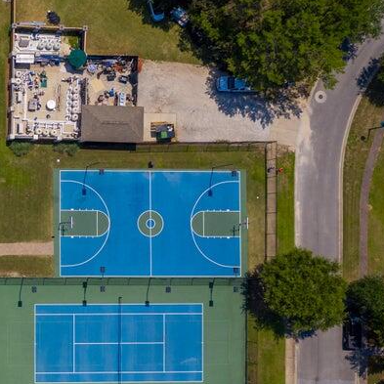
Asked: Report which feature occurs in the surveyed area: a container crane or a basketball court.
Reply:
basketball court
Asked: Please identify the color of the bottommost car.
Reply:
black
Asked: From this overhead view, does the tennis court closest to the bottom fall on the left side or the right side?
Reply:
left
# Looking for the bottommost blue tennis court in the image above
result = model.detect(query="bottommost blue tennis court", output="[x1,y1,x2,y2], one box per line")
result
[8,299,230,384]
